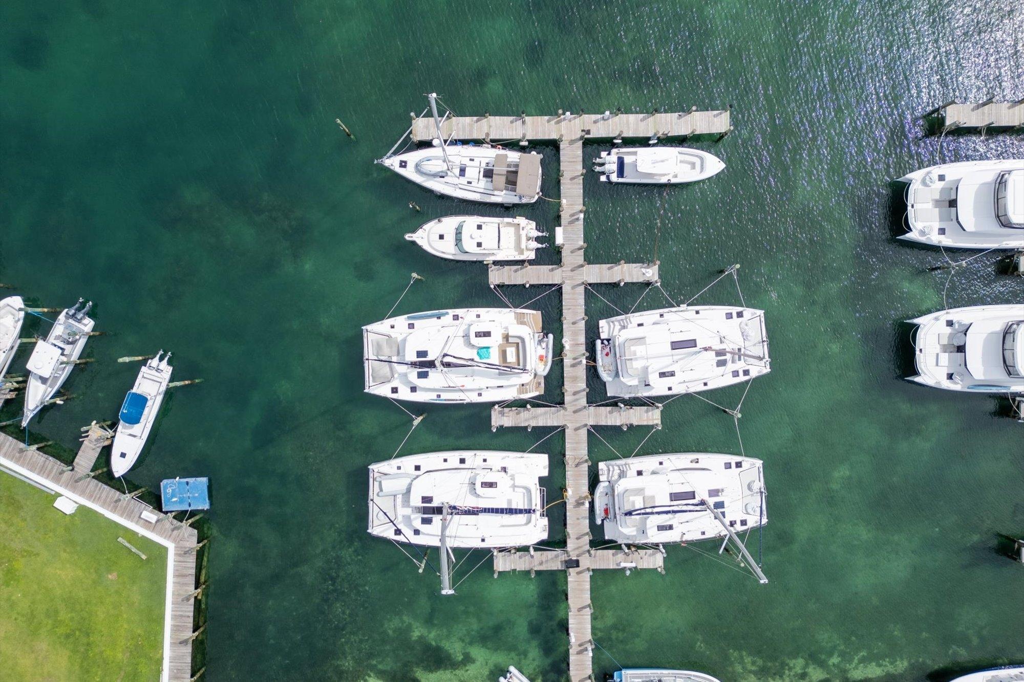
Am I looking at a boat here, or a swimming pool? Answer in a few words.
boat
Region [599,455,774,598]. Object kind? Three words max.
boat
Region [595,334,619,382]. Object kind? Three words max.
boat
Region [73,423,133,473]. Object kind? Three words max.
pier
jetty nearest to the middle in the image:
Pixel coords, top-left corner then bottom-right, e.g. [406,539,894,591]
[410,104,733,682]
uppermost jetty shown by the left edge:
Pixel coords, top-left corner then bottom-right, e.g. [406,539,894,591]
[0,375,30,416]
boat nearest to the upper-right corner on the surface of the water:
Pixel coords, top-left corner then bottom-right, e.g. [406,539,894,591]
[889,158,1024,249]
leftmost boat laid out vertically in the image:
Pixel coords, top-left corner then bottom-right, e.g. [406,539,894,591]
[0,297,33,377]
